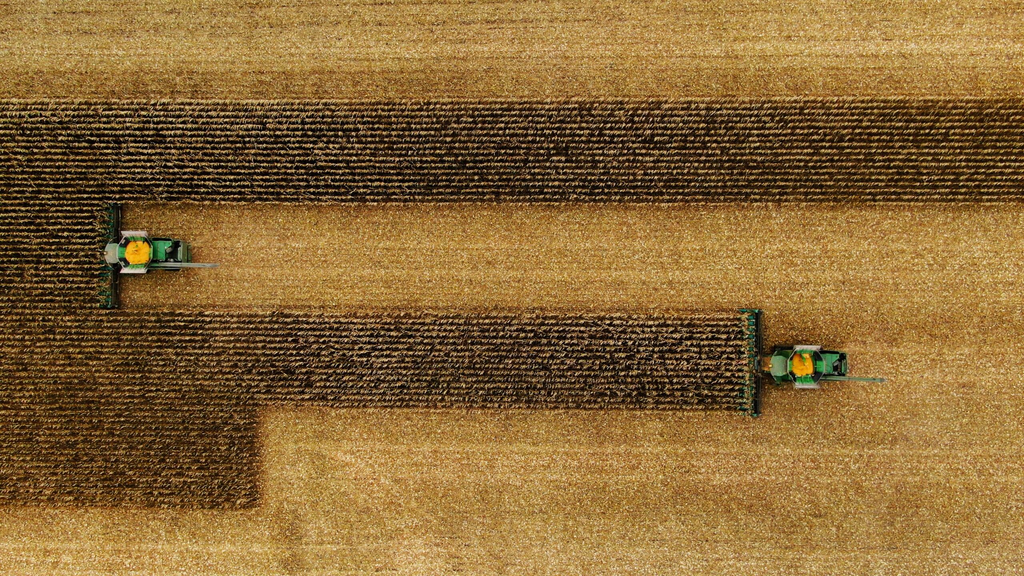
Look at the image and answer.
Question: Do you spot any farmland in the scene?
Yes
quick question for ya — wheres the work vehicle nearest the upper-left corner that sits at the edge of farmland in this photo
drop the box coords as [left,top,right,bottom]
[100,203,219,306]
